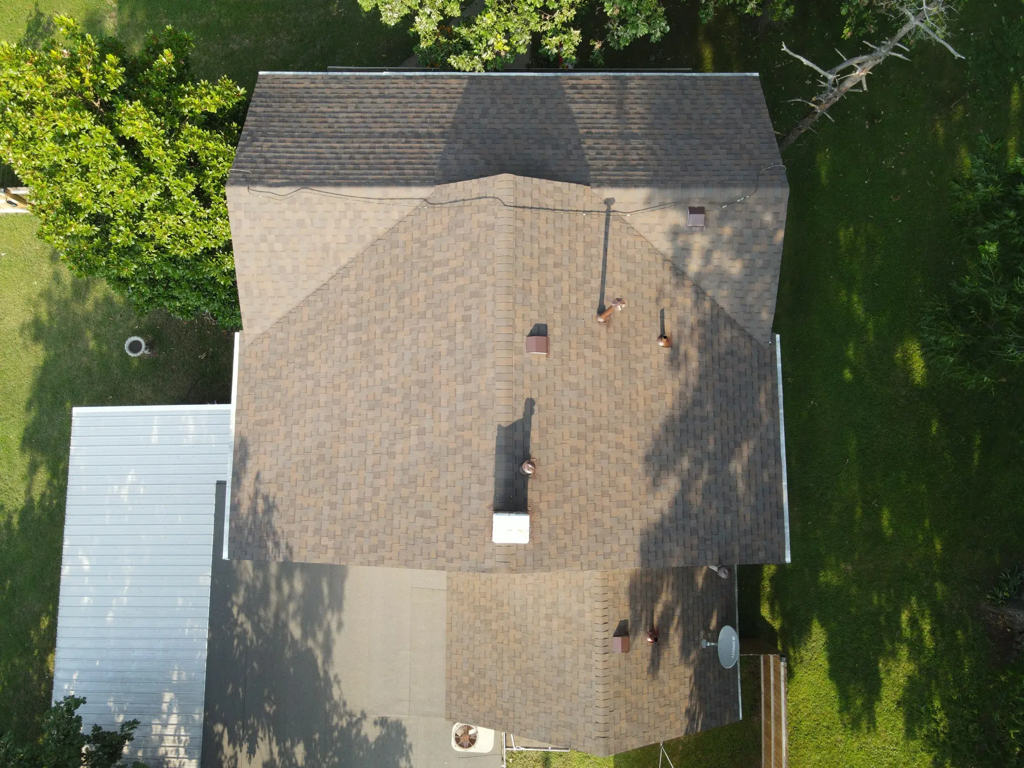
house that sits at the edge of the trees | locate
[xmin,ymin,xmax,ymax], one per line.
[204,70,790,768]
